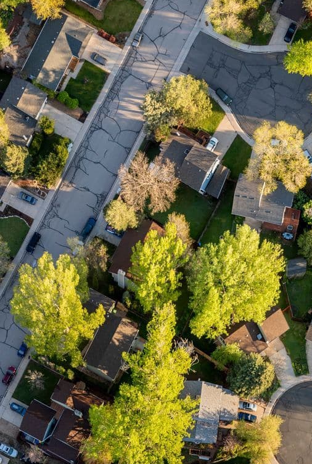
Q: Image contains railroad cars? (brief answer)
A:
No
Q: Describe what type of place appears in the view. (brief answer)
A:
residential area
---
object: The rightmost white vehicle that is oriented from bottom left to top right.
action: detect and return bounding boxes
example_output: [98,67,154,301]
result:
[203,134,221,152]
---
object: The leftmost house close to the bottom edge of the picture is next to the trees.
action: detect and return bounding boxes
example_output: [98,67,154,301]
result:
[20,380,106,464]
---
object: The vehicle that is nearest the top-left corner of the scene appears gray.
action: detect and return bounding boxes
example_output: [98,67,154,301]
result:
[88,51,109,66]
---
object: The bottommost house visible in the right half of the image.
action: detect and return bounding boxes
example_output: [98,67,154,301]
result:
[184,382,239,444]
